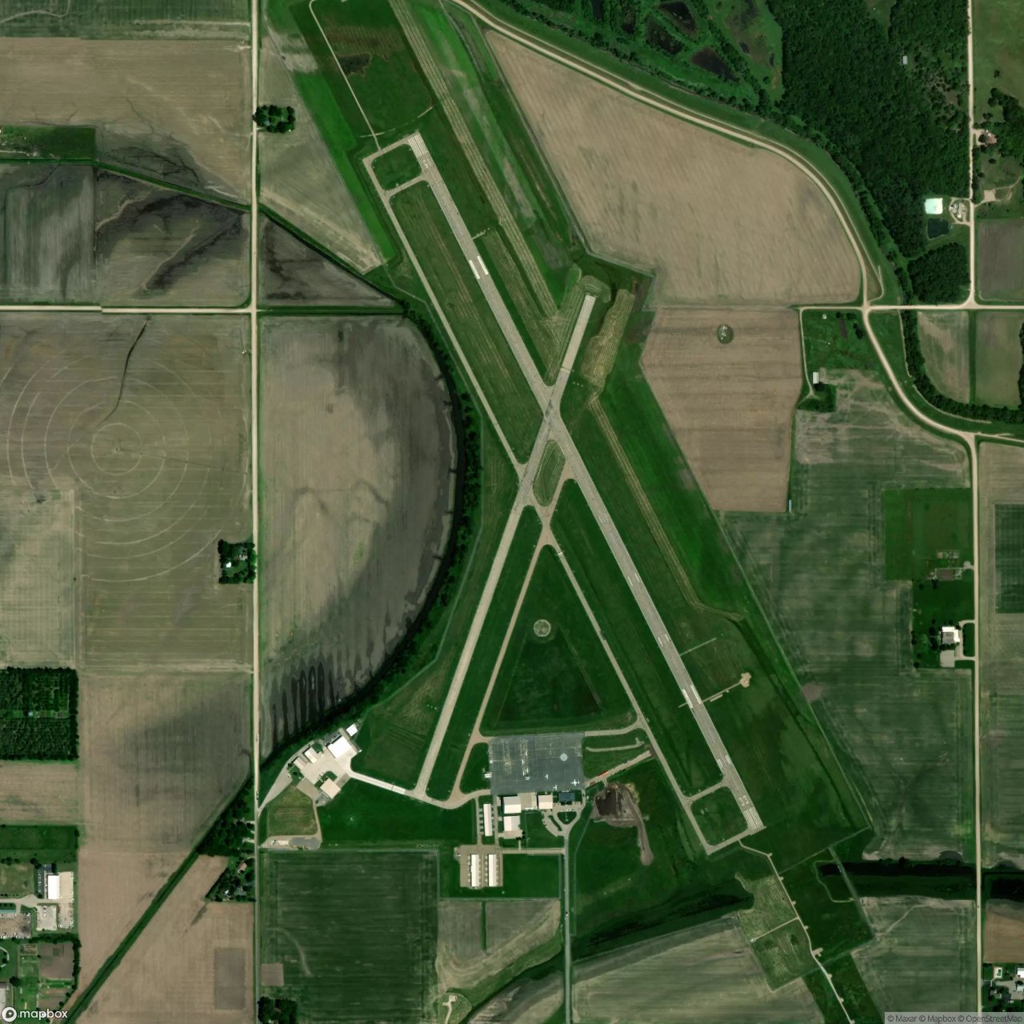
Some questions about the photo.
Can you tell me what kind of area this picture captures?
farmland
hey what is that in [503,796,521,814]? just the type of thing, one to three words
hangar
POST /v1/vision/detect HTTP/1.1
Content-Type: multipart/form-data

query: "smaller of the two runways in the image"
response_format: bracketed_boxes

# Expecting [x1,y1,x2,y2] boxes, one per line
[413,294,596,796]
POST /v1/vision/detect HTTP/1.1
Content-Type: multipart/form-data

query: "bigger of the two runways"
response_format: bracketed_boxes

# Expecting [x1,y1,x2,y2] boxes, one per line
[406,131,763,833]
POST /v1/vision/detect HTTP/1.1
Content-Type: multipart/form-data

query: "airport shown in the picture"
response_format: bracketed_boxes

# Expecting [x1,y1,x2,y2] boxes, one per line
[344,131,767,853]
